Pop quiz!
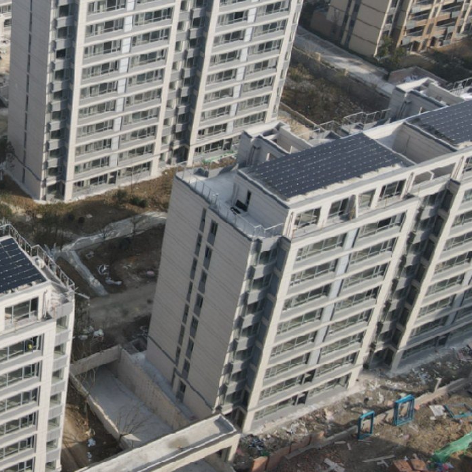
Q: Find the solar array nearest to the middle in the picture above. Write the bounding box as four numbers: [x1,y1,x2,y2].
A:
[245,133,404,200]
